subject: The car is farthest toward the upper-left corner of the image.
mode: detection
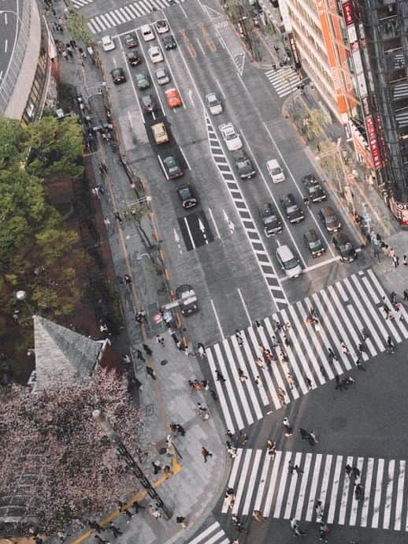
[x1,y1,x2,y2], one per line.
[100,36,116,53]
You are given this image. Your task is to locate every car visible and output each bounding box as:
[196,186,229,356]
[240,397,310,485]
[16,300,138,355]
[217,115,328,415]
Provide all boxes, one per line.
[301,174,327,203]
[140,26,157,42]
[151,123,170,145]
[274,239,302,278]
[125,51,141,69]
[331,233,359,268]
[164,89,182,109]
[161,35,178,52]
[234,153,255,180]
[163,156,184,182]
[259,205,283,236]
[301,227,328,262]
[221,126,242,149]
[279,194,305,224]
[123,33,139,50]
[264,158,287,185]
[316,199,344,237]
[134,72,152,90]
[100,36,116,53]
[147,48,164,64]
[110,69,128,87]
[176,183,198,211]
[138,94,157,113]
[154,69,171,87]
[206,93,224,115]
